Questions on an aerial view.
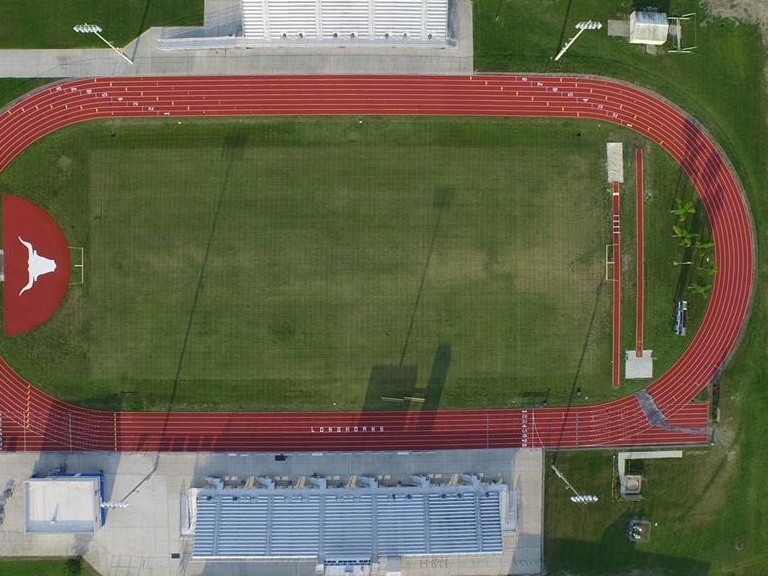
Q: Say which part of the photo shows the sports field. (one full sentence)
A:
Look in the center portion of the view to spot the sports field.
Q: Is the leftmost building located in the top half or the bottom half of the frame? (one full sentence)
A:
The leftmost building sits in the bottom half of the picture.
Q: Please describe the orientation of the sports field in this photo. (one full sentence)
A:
What the image shows is the sports field lying from side to side.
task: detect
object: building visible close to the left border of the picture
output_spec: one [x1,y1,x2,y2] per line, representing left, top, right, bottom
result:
[23,472,104,534]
